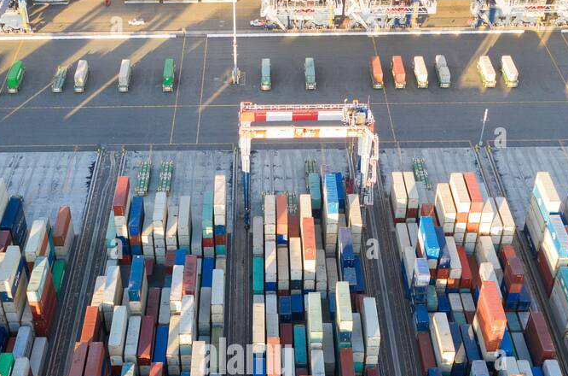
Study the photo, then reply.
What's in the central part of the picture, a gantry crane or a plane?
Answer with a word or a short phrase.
gantry crane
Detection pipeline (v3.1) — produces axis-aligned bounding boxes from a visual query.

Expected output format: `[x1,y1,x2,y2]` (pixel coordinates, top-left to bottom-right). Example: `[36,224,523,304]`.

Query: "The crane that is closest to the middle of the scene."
[235,94,372,219]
